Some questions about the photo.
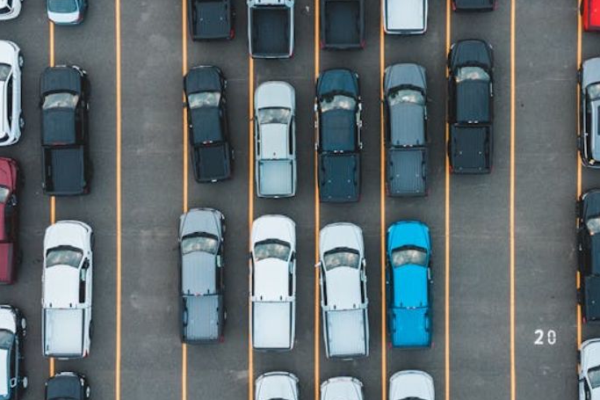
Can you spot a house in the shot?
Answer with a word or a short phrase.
No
